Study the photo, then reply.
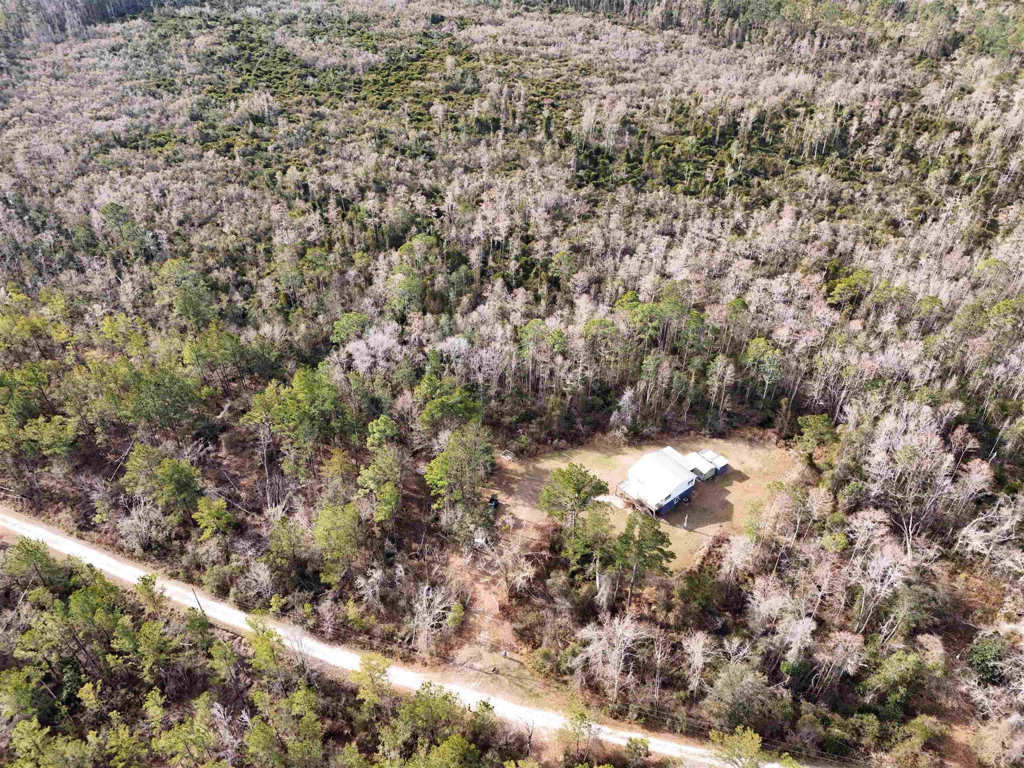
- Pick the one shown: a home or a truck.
home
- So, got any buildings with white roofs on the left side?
No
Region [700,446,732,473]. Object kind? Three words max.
shed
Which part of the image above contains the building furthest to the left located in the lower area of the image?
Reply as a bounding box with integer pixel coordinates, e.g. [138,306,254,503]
[614,447,698,524]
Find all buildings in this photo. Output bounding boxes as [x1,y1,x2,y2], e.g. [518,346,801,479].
[700,446,732,473]
[614,447,698,524]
